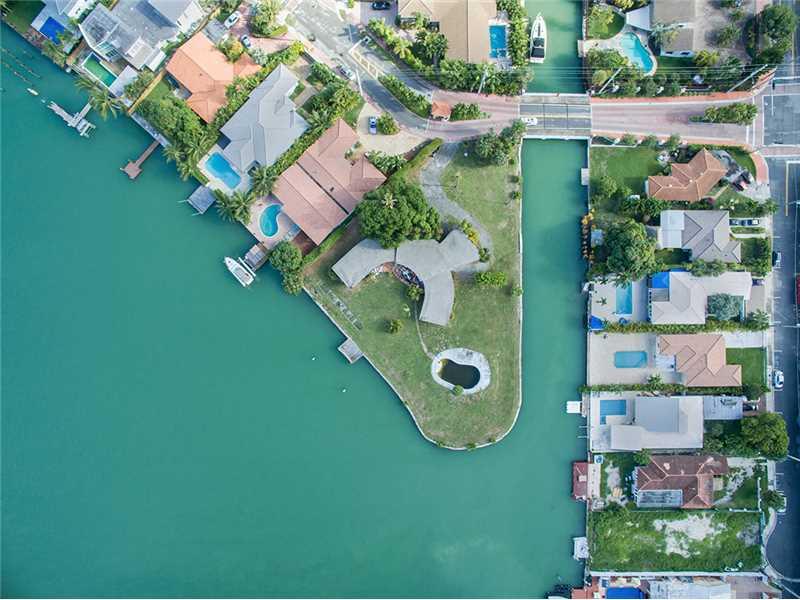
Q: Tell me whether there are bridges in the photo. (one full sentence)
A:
Yes, there is a bridge in the image.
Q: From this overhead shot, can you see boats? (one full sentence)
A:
Yes, you can see a boat in this photo.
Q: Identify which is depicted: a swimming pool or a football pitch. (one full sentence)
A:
This aerial view contains a swimming pool.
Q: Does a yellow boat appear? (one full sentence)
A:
No, the picture doesn't show any yellow boat.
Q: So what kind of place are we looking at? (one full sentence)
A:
This image shows a residential area.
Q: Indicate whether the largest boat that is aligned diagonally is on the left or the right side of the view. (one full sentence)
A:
You can find the largest boat that is aligned diagonally on the left side of the picture.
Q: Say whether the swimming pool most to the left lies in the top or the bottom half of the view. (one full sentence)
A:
It is in the top half that the swimming pool most to the left appears.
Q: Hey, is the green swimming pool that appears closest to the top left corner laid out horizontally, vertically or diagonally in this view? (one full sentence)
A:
The green swimming pool that appears closest to the top left corner runs diagonally in the image.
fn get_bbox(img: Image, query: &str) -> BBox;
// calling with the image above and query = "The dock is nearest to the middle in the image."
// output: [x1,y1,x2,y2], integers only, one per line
[338,338,362,362]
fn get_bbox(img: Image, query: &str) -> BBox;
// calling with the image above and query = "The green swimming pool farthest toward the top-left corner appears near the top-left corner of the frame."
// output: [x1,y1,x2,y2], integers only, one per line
[80,52,119,90]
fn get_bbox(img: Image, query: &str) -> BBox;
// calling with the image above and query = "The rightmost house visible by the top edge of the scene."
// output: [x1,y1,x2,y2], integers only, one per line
[648,0,702,58]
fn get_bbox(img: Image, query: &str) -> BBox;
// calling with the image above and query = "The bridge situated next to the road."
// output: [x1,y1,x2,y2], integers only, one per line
[519,90,595,138]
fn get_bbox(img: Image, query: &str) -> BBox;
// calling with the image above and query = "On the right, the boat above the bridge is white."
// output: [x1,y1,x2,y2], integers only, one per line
[531,12,545,63]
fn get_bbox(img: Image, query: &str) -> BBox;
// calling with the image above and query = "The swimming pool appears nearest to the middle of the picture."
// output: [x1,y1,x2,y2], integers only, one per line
[439,359,480,389]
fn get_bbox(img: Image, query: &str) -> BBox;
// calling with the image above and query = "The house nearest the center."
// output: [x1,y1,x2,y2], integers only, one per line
[332,230,479,326]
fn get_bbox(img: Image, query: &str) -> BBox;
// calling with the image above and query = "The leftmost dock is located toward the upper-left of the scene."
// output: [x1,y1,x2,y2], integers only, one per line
[51,97,95,138]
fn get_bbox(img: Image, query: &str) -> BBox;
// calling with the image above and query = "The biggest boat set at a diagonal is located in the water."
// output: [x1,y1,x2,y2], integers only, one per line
[226,259,258,288]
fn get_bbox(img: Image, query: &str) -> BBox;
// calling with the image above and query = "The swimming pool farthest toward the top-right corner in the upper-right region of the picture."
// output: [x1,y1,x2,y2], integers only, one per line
[617,31,656,74]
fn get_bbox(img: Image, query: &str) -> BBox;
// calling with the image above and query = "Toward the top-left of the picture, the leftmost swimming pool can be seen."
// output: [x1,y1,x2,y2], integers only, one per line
[38,15,66,45]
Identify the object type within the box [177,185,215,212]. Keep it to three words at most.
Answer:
pier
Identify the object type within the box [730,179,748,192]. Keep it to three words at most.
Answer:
vehicle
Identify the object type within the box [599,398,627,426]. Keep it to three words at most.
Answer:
swimming pool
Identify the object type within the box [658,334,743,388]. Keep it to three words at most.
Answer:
house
